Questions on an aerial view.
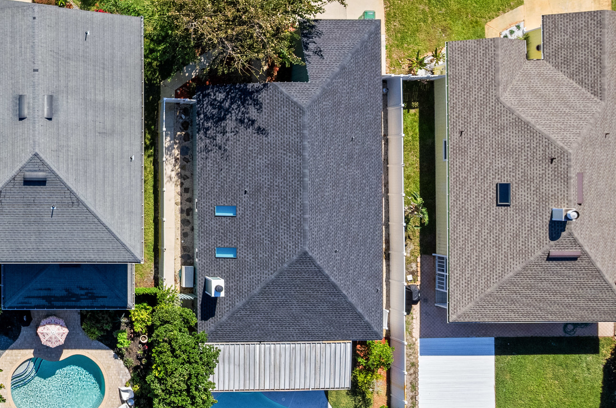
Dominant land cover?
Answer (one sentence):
The scene is dominated by buildings.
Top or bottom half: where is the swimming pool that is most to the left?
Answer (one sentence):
Seen from above, the swimming pool that is most to the left lies in the bottom half of the view.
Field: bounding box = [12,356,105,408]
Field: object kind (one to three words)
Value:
swimming pool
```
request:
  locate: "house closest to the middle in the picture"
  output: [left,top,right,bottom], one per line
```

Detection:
[194,18,393,342]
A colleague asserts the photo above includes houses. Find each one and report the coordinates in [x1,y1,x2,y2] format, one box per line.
[194,18,393,342]
[435,10,616,325]
[0,0,144,312]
